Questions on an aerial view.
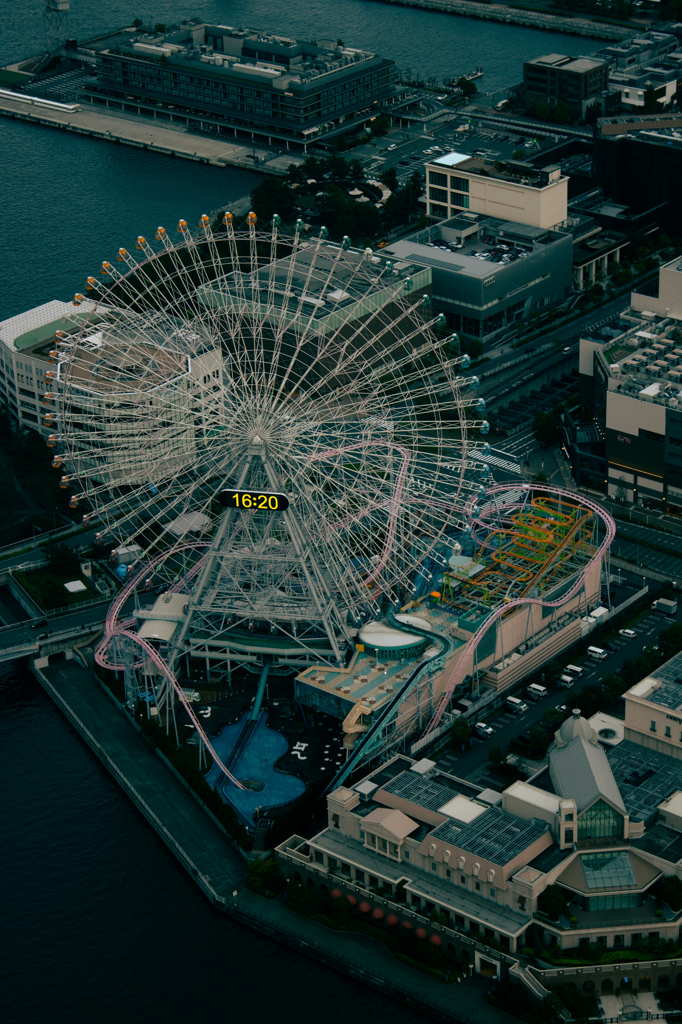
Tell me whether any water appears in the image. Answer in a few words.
Yes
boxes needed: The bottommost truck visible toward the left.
[178,684,202,706]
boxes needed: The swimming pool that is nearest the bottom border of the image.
[205,711,308,822]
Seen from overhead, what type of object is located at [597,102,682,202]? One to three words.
building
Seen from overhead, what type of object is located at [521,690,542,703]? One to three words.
vehicle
